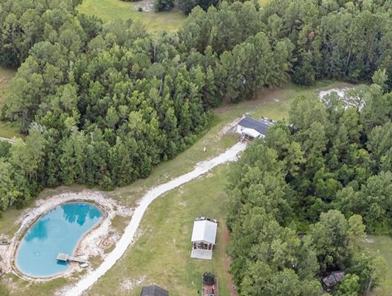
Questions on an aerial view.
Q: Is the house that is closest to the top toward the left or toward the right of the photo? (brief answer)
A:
right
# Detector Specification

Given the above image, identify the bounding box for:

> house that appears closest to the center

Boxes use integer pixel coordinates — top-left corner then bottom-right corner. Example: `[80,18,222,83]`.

[239,118,277,142]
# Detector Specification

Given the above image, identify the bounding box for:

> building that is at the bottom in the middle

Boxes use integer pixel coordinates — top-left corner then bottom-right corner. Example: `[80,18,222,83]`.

[190,219,220,260]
